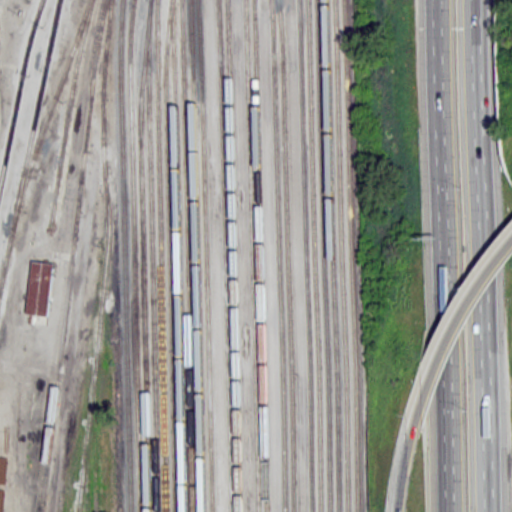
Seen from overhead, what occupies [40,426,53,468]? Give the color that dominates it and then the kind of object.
white rail car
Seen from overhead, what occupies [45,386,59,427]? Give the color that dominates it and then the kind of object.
white rail car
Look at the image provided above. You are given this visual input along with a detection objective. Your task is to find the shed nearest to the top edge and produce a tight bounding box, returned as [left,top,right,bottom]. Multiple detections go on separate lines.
[25,262,54,315]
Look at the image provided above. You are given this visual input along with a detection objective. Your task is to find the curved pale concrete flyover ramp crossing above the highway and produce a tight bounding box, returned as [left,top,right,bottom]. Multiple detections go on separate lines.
[381,226,512,512]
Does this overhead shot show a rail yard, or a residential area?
rail yard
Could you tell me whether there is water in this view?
No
